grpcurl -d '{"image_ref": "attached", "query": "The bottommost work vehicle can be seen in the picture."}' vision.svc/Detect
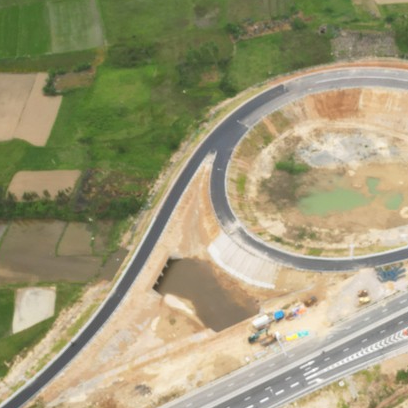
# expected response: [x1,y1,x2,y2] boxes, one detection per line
[246,327,270,345]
